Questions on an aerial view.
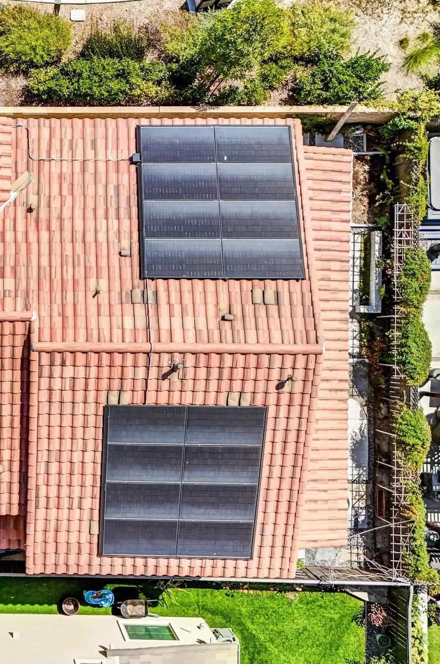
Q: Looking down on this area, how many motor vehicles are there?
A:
none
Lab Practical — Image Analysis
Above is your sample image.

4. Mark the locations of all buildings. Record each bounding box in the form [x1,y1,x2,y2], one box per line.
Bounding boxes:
[0,614,242,664]
[0,111,356,583]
